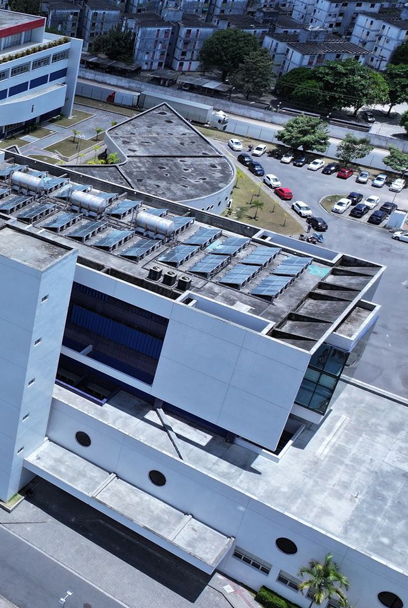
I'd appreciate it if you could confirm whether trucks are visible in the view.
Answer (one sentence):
Yes, this view includes a truck.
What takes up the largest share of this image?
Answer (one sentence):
Most of the picture is covered by buildings.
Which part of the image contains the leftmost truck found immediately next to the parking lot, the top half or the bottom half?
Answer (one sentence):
It is in the top half that the leftmost truck found immediately next to the parking lot appears.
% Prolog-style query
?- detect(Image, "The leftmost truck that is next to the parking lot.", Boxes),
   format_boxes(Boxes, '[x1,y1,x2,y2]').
[155,89,238,128]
